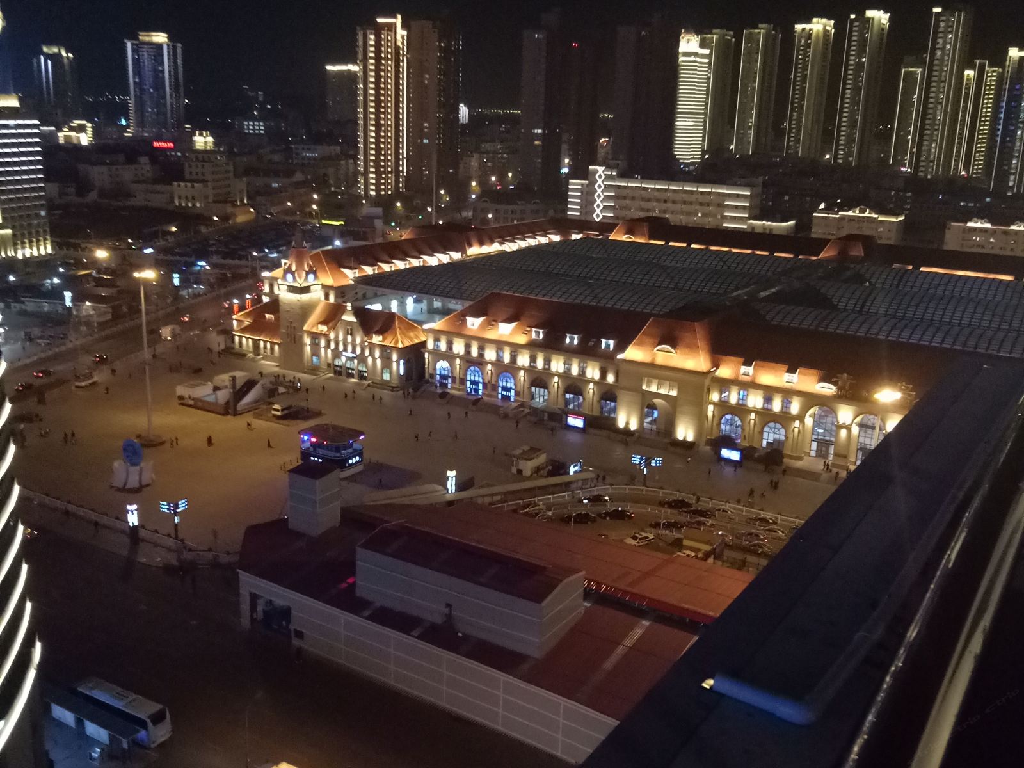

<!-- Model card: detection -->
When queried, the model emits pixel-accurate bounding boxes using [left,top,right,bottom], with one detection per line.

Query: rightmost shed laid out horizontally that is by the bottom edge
[240,503,751,768]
